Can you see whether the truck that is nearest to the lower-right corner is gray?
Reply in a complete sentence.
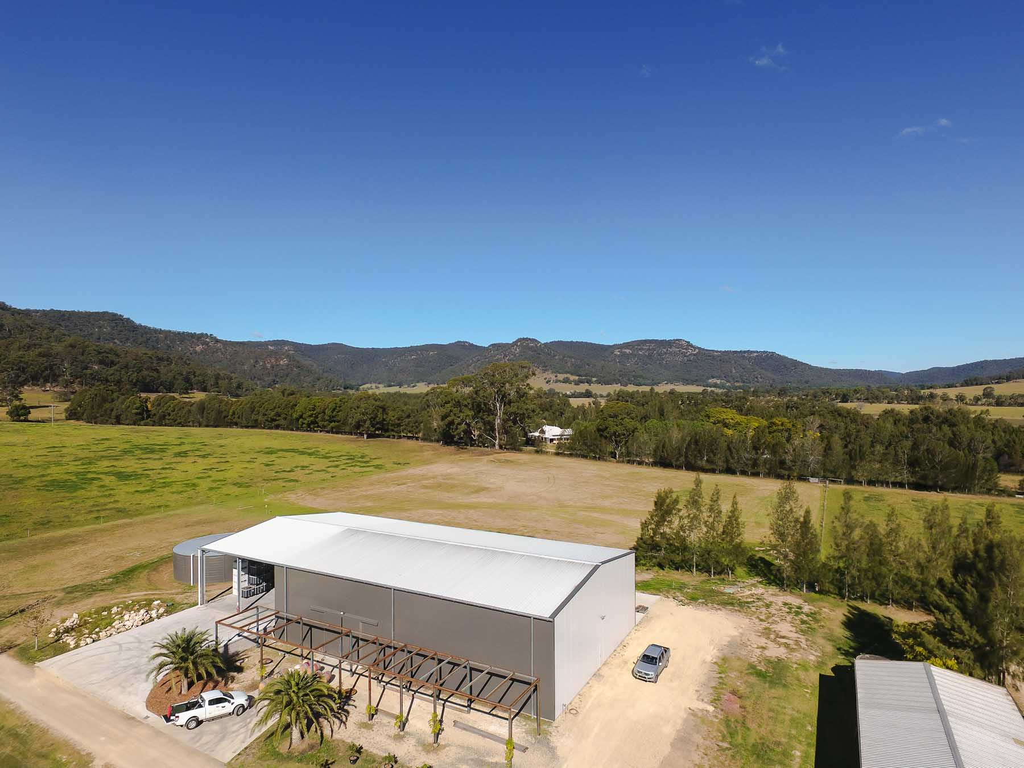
Yes, the truck that is nearest to the lower-right corner appears gray.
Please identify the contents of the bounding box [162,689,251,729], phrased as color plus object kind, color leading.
white truck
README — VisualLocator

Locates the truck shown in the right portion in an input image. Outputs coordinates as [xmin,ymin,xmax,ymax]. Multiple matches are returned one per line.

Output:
[633,645,670,683]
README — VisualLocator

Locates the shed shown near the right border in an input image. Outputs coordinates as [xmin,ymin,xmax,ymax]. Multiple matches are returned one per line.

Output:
[852,658,1024,768]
